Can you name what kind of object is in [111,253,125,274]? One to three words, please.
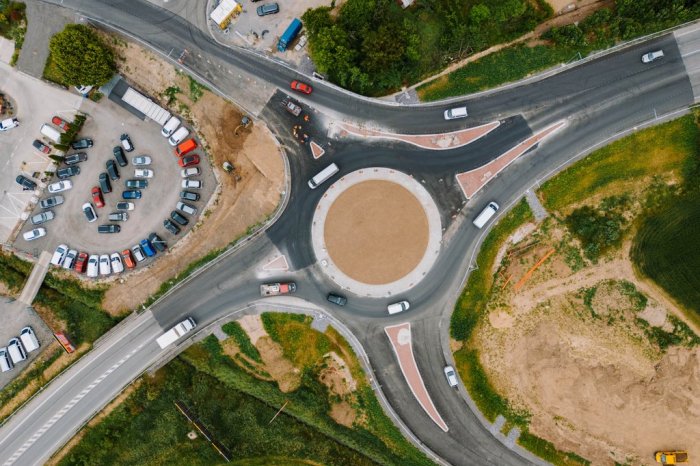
car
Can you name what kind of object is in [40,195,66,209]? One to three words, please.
car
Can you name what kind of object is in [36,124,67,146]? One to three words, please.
vehicle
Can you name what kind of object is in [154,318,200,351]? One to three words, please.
truck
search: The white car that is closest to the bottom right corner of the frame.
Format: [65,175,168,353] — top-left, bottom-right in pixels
[443,364,461,389]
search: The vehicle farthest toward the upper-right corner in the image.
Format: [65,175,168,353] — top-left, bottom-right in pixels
[640,49,666,64]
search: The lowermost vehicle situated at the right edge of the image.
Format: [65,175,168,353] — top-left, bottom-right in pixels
[652,448,690,465]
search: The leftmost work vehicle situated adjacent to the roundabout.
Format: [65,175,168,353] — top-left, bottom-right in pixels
[232,115,251,137]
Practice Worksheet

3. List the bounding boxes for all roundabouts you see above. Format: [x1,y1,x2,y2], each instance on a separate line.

[258,90,533,297]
